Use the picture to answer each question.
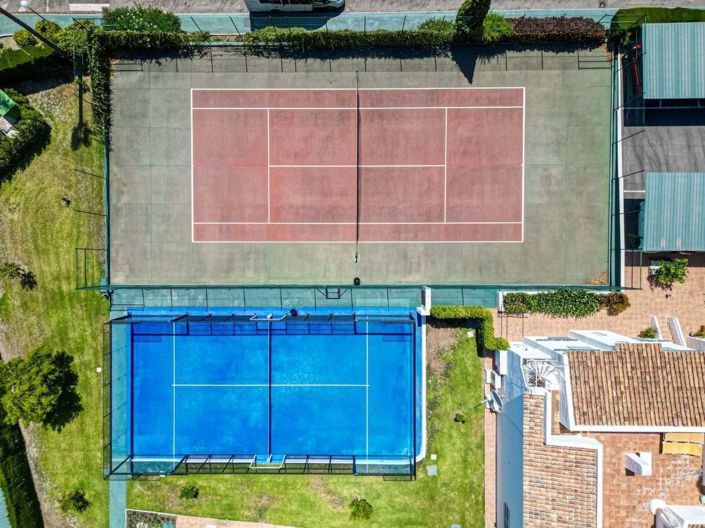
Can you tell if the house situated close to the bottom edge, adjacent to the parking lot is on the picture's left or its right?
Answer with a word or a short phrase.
right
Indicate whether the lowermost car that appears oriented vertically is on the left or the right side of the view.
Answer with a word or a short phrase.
right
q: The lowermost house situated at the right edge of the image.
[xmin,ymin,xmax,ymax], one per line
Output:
[496,331,705,528]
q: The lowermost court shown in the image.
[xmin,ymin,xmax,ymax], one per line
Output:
[126,308,426,465]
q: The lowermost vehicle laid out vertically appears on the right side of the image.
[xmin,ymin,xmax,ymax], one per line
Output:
[630,194,658,253]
